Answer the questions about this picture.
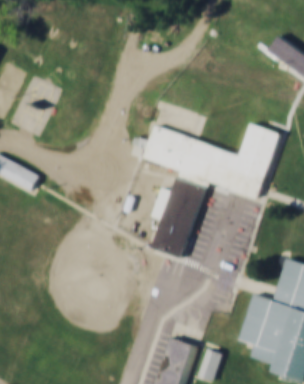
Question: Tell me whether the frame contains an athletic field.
Yes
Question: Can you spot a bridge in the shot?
No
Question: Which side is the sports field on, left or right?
left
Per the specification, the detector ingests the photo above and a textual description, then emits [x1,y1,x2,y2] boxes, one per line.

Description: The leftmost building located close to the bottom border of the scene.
[156,339,199,384]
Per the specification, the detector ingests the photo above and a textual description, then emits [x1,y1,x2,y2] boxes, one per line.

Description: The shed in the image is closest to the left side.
[0,154,41,189]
